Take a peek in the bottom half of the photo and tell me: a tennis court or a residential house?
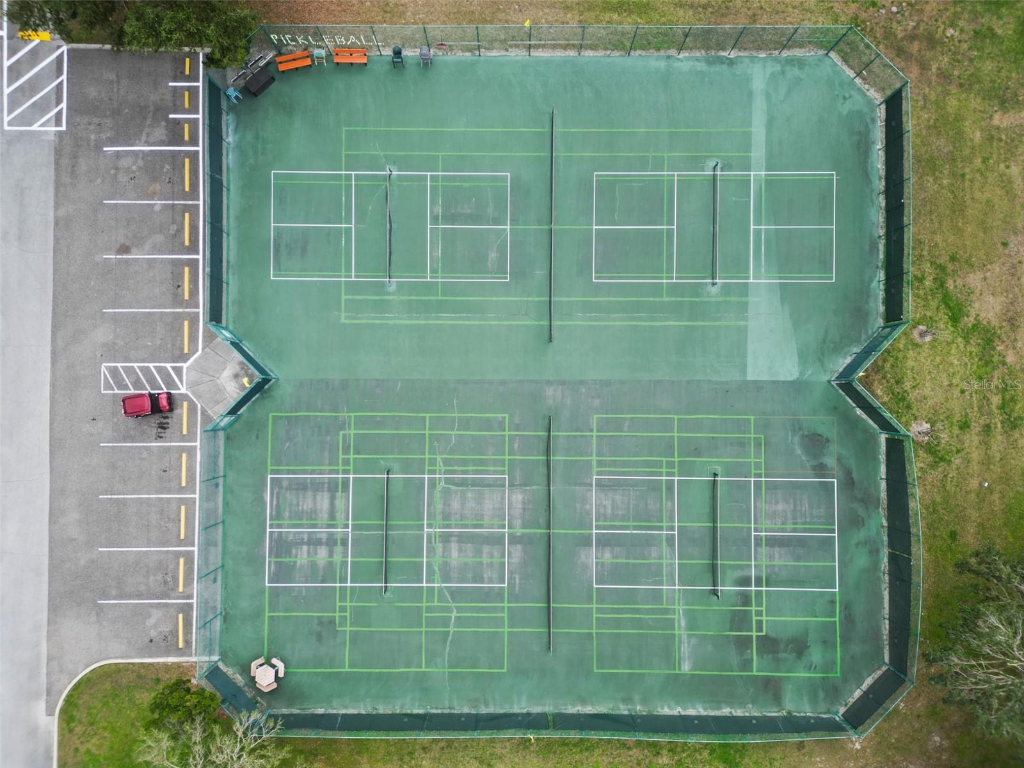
tennis court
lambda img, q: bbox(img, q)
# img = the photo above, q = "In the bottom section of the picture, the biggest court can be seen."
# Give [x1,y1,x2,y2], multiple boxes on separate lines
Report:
[221,378,884,712]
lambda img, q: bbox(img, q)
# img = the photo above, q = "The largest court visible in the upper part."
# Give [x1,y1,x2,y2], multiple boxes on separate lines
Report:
[226,55,878,381]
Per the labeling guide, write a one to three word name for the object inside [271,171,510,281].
sports court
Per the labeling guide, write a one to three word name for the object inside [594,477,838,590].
sports court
